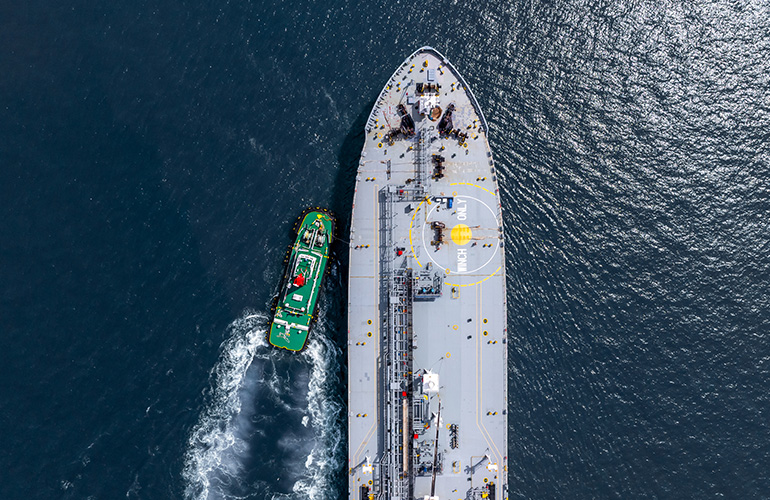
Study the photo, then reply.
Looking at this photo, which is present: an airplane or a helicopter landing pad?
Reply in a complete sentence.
This aerial view contains a helicopter landing pad.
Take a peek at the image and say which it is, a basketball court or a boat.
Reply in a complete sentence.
The image shows a boat.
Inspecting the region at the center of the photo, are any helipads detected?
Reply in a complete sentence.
Yes, a helipad can be seen at the center of the photo.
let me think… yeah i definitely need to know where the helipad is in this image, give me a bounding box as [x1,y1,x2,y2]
[410,183,502,286]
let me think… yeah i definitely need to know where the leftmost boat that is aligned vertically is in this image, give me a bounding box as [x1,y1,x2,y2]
[267,205,338,353]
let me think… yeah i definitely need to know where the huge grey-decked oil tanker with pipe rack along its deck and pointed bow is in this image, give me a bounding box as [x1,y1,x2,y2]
[347,46,508,500]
